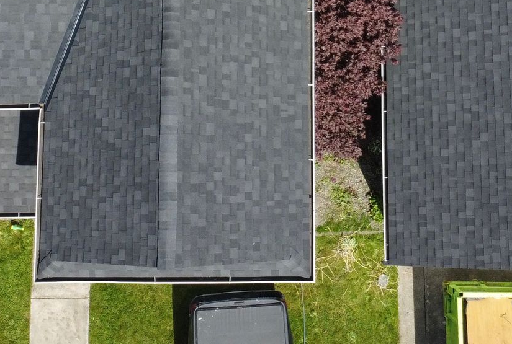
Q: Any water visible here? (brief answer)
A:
No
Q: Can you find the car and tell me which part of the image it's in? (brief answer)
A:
bottom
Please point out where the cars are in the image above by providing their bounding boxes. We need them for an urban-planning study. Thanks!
[191,284,293,344]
